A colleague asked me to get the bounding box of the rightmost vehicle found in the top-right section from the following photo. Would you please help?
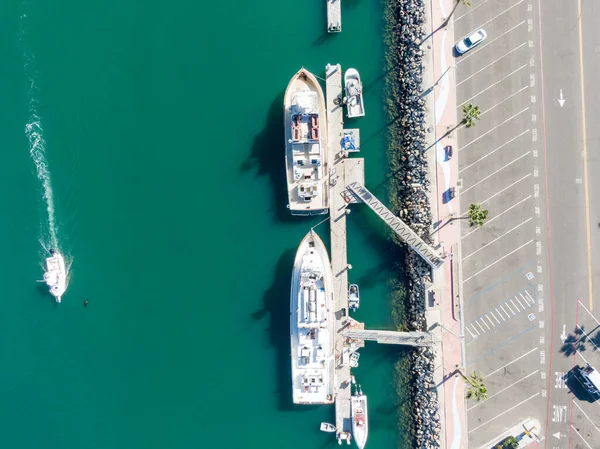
[455,26,489,54]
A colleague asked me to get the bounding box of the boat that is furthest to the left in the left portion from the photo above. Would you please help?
[36,250,67,304]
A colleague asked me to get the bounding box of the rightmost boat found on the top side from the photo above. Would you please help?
[341,67,365,120]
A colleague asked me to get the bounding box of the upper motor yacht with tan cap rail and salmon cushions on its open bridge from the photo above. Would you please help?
[284,64,331,217]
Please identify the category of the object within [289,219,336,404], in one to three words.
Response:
boat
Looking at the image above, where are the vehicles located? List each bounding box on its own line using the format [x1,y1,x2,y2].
[580,362,600,393]
[455,26,489,54]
